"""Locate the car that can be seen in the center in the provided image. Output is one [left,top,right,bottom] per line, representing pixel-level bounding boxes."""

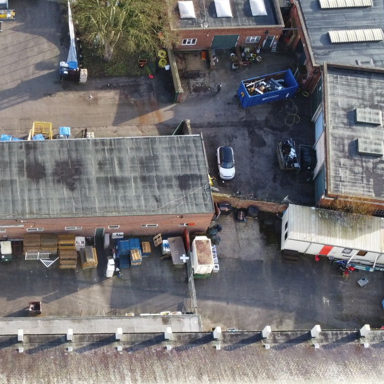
[216,150,237,182]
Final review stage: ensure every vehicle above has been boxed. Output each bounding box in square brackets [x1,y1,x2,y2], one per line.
[216,150,237,182]
[0,239,12,269]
